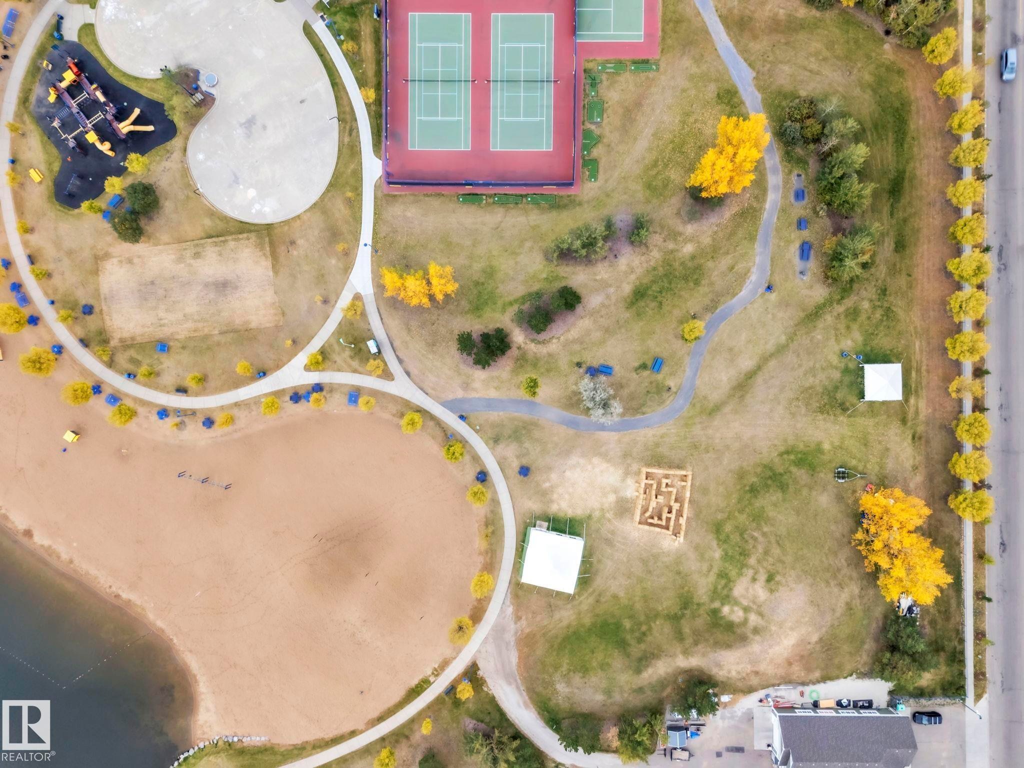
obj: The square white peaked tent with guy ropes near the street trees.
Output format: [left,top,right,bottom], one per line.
[846,351,909,413]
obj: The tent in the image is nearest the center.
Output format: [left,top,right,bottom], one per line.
[518,512,594,601]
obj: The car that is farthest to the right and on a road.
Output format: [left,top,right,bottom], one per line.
[999,50,1016,81]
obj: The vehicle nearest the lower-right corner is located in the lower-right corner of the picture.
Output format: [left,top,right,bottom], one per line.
[911,710,940,725]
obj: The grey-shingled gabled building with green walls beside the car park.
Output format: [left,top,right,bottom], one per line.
[769,708,918,767]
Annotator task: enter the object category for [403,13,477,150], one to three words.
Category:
tennis court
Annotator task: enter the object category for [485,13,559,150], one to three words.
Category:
tennis court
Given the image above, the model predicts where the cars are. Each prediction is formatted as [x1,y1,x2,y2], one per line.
[999,50,1016,81]
[911,710,940,725]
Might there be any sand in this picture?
Yes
